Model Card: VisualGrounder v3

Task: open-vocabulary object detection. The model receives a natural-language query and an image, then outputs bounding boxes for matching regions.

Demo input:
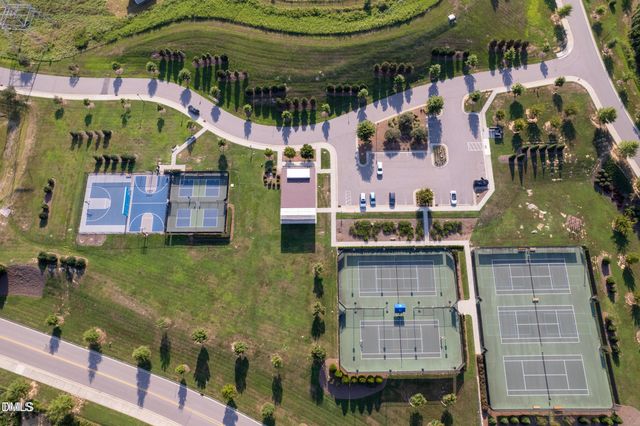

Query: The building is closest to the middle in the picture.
[280,166,316,224]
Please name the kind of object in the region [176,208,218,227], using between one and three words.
sports court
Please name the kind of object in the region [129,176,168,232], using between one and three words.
basketball court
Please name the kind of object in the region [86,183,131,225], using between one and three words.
basketball court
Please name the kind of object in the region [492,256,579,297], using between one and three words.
tennis court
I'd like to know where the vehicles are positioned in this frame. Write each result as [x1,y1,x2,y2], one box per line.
[369,192,376,206]
[360,192,367,207]
[389,192,396,207]
[185,104,198,114]
[377,163,384,177]
[450,191,458,205]
[472,180,489,188]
